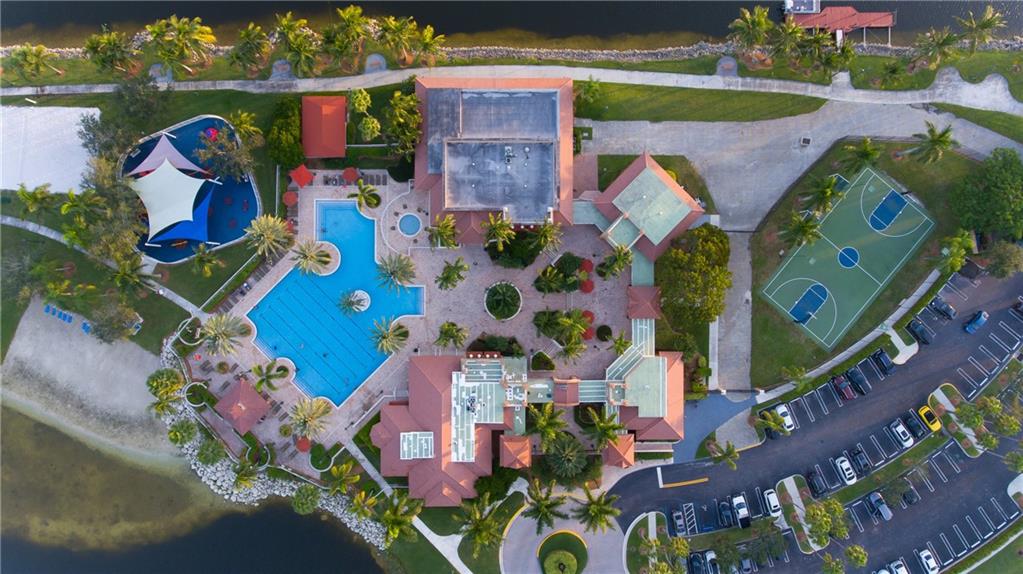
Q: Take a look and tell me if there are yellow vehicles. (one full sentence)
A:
Yes, a yellow vehicle appears in the view.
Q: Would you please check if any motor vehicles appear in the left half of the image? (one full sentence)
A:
No, I can find no motor vehicle in the left half of the image.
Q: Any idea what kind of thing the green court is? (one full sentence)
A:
The green court appears to be a basketball court.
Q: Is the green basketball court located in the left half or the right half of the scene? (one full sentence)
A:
The green basketball court sits on the right side.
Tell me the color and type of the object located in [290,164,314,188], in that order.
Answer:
red umbrella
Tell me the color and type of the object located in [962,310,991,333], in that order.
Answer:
blue car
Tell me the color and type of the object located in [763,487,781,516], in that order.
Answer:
white car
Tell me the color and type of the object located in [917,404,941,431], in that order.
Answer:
yellow car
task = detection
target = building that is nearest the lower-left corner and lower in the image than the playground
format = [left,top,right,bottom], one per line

[213,376,273,436]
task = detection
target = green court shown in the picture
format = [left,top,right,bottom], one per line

[759,165,939,353]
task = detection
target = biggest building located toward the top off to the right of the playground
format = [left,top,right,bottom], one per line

[415,78,600,245]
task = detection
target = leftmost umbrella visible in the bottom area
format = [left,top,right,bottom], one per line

[296,435,312,451]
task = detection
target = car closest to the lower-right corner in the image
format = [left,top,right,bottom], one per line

[918,547,941,574]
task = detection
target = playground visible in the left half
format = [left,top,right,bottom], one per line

[124,110,261,264]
